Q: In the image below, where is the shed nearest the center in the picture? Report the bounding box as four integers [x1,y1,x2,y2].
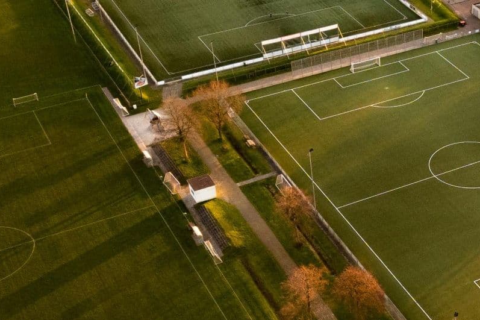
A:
[185,172,217,202]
